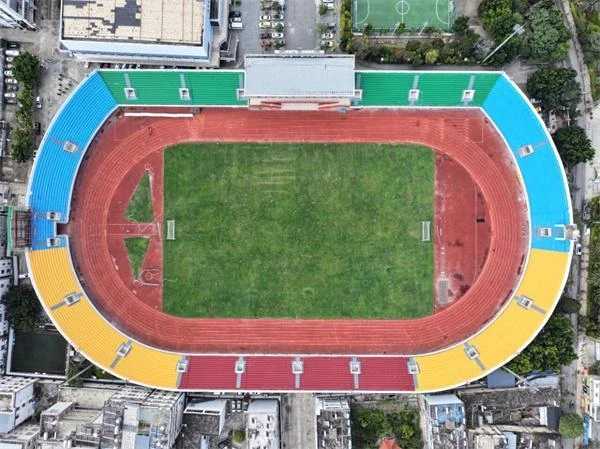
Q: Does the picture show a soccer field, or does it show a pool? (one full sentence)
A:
The one in the frame is a soccer field.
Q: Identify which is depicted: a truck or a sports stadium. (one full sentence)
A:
Visible in the photo is a sports stadium.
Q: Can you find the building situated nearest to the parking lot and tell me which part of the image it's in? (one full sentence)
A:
Look in the top left portion of the view to spot the building situated nearest to the parking lot.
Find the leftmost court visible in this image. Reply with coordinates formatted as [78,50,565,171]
[7,326,72,377]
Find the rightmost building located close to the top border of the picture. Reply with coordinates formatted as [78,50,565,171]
[59,0,230,69]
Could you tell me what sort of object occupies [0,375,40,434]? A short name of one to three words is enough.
building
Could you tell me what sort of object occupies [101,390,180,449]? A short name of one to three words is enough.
building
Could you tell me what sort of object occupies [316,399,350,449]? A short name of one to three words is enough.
house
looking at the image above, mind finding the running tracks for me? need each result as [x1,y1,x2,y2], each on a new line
[54,107,530,354]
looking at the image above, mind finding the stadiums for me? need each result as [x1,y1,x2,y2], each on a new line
[26,50,579,392]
